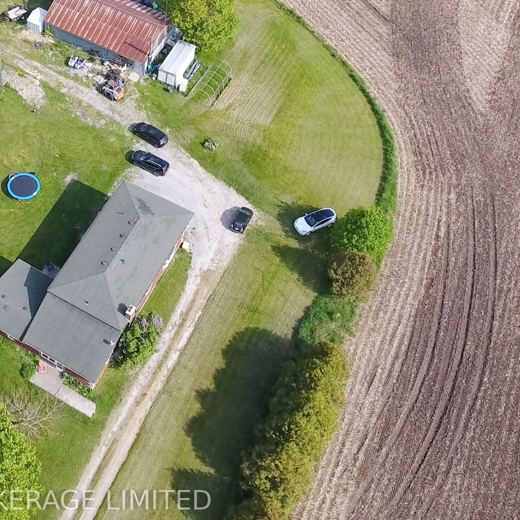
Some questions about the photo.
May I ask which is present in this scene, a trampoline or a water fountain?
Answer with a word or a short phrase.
trampoline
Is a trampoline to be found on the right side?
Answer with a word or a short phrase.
No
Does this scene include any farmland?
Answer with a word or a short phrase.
Yes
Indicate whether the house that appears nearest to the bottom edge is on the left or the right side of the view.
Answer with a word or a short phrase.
left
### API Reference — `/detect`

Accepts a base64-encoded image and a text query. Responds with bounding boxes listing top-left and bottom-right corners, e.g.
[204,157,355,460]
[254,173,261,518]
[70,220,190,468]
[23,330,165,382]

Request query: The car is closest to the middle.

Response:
[233,202,257,233]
